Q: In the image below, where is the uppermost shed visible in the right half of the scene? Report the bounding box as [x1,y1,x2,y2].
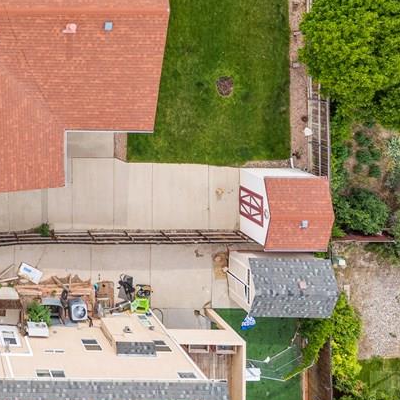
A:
[240,171,338,252]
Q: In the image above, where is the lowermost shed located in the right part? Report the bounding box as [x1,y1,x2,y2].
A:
[229,247,340,318]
